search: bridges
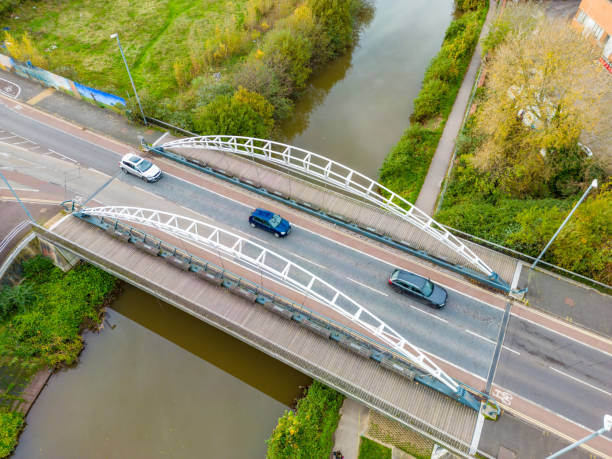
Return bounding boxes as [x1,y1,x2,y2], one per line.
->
[36,124,530,459]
